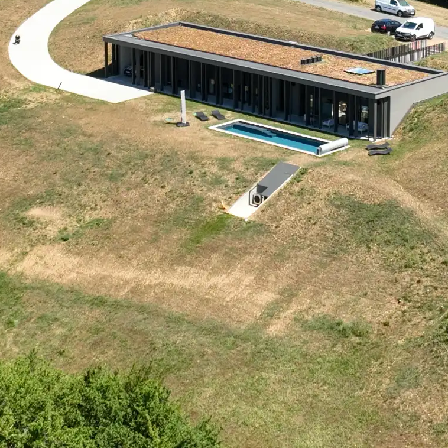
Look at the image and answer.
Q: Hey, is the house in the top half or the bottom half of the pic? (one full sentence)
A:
The house is in the top half of the image.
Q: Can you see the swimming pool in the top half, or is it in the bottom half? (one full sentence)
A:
The swimming pool is in the top half of the image.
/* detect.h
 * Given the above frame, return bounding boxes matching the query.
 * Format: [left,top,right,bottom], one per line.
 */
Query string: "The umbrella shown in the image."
[174,92,191,129]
